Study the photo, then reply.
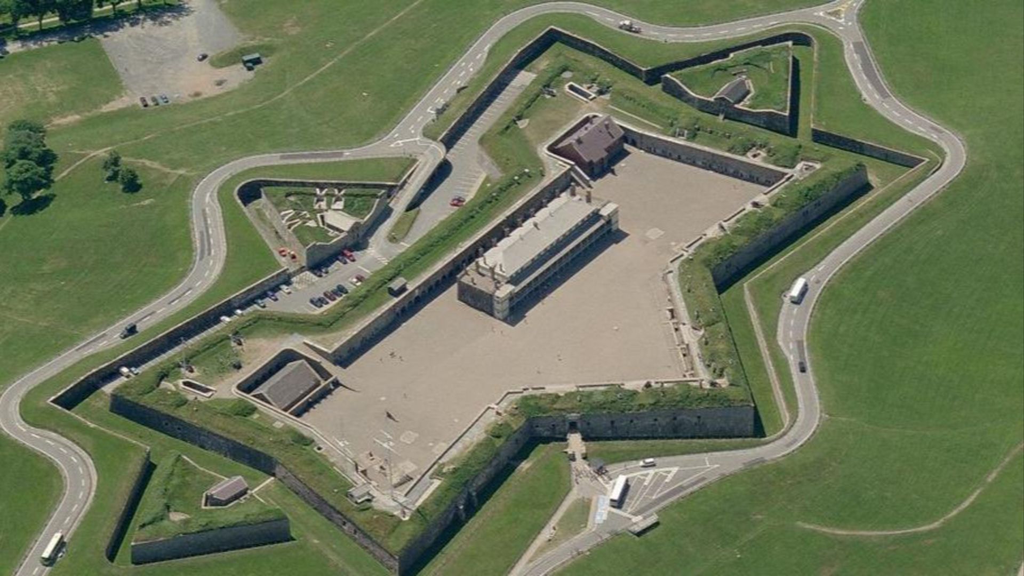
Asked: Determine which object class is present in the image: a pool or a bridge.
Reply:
bridge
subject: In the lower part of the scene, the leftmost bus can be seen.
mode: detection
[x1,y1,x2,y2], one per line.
[43,530,67,566]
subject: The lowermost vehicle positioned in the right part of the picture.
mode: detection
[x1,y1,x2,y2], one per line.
[611,474,630,508]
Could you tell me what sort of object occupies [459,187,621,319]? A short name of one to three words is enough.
building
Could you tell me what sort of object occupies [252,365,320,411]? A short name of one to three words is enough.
building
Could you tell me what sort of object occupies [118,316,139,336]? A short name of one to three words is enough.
vehicle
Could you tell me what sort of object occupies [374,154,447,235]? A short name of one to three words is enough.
bridge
